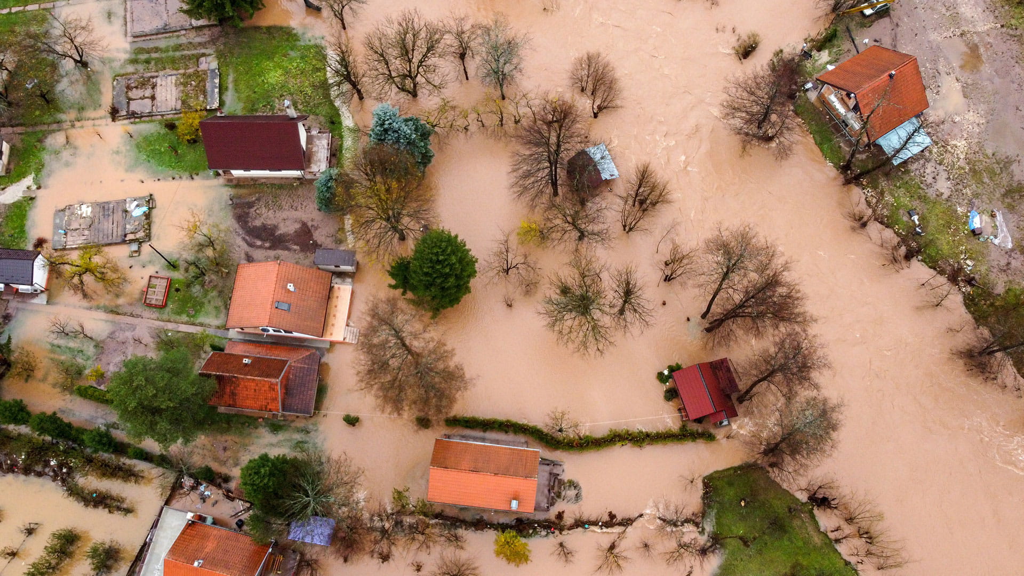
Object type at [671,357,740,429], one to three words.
building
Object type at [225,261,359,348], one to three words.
house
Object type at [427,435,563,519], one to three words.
house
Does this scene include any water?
Yes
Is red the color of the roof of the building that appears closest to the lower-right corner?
Yes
